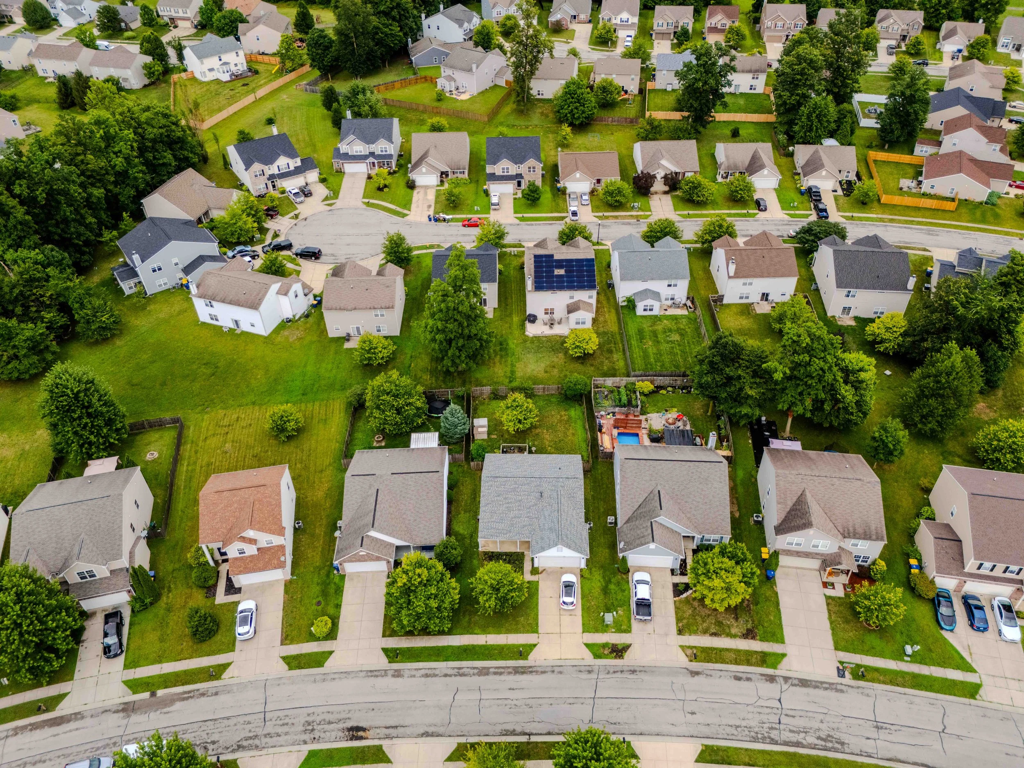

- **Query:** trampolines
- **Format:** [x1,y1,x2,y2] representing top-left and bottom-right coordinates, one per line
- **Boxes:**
[423,389,452,422]
[824,432,858,454]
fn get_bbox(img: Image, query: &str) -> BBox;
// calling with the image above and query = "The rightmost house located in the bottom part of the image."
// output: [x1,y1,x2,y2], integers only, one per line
[914,465,1024,613]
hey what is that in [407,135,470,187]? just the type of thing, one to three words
house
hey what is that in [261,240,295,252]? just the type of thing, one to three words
vehicle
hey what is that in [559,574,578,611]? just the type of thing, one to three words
car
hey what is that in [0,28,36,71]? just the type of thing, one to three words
house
